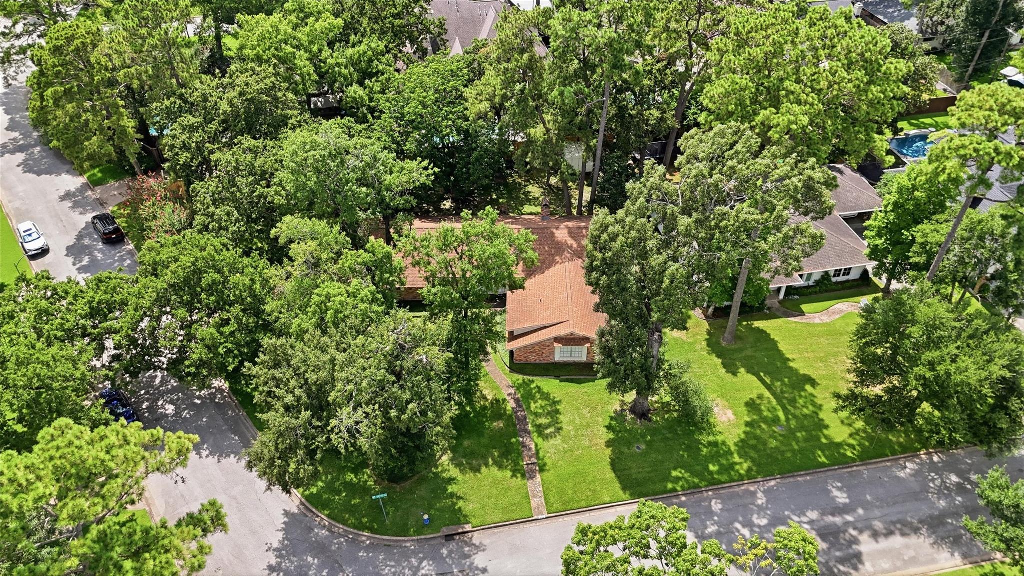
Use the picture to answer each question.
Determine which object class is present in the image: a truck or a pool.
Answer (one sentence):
This aerial view contains a pool.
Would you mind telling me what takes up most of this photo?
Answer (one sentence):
Most of the picture is covered by trees.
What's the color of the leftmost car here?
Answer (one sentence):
In this view, the leftmost car is white.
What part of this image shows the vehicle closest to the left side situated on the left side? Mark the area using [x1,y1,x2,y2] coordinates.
[16,220,49,257]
